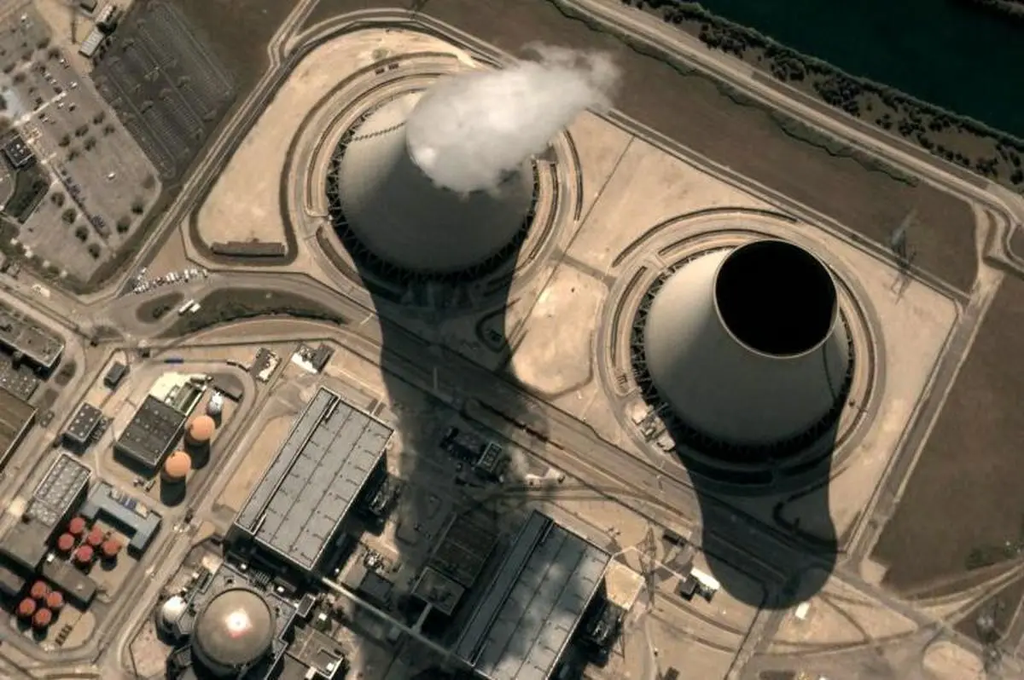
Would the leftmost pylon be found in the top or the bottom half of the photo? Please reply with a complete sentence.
You can find the leftmost pylon in the bottom half.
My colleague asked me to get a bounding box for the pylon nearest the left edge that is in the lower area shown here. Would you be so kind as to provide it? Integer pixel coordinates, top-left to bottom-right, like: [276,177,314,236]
[634,529,655,564]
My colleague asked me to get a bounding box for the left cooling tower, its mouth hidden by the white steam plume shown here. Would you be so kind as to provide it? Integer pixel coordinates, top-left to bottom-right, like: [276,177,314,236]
[326,75,539,285]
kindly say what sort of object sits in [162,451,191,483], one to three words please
storage tank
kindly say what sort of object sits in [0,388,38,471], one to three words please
building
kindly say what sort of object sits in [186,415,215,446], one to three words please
storage tank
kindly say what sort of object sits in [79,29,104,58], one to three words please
shed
